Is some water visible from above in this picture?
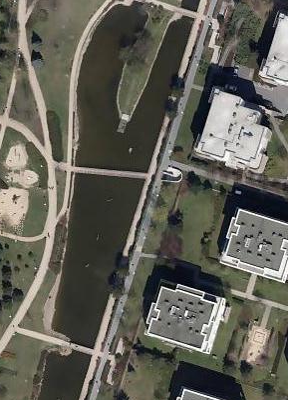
Yes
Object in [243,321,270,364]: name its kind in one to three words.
playground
